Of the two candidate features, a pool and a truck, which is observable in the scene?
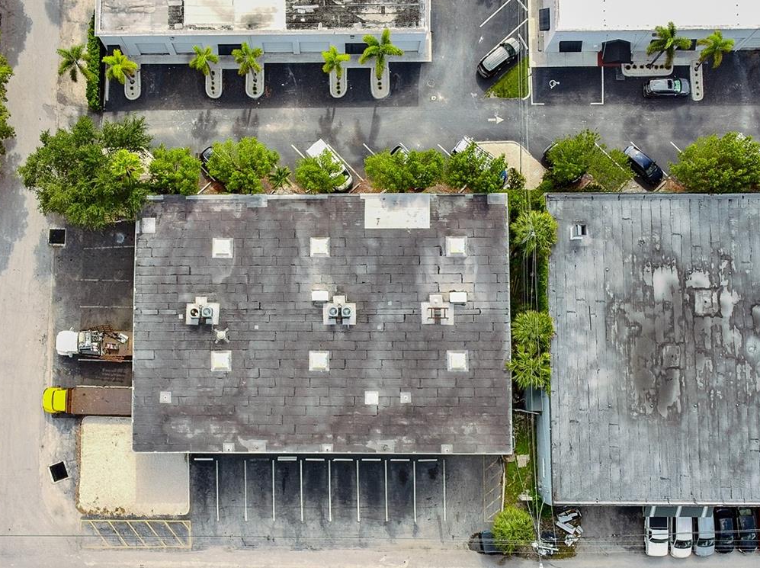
truck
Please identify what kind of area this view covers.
industrial area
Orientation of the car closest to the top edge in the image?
at an angle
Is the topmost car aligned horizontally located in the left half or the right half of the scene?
right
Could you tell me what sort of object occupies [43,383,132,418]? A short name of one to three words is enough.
truck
